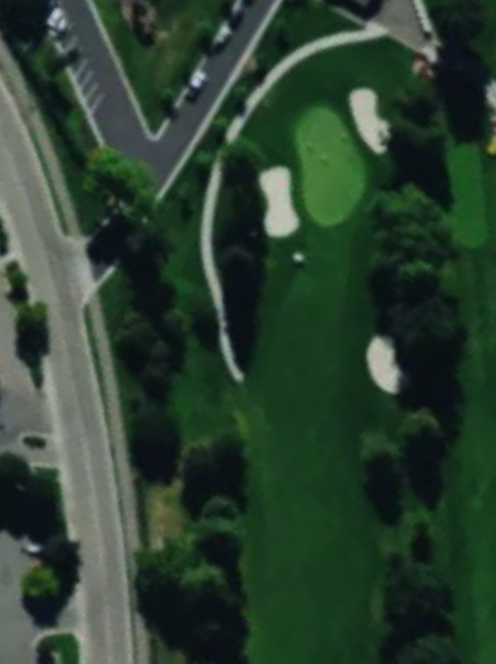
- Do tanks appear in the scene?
No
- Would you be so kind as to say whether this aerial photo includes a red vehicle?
No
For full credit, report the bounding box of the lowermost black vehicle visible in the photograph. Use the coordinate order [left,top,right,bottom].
[62,44,81,66]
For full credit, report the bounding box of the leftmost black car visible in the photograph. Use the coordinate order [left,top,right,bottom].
[42,0,58,15]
